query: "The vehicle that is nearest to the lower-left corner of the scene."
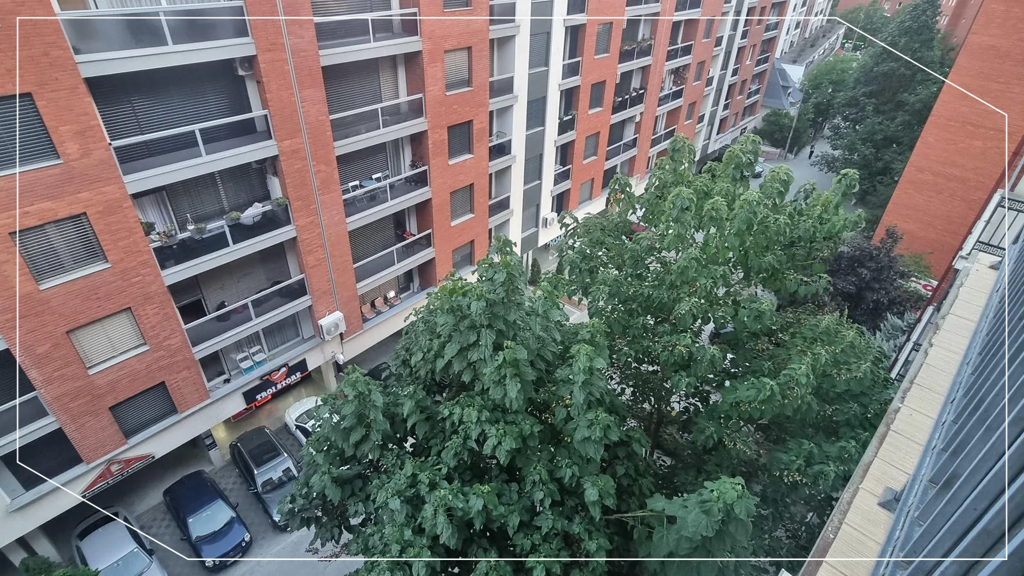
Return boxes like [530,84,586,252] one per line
[82,507,163,576]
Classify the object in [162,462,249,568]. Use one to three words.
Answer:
car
